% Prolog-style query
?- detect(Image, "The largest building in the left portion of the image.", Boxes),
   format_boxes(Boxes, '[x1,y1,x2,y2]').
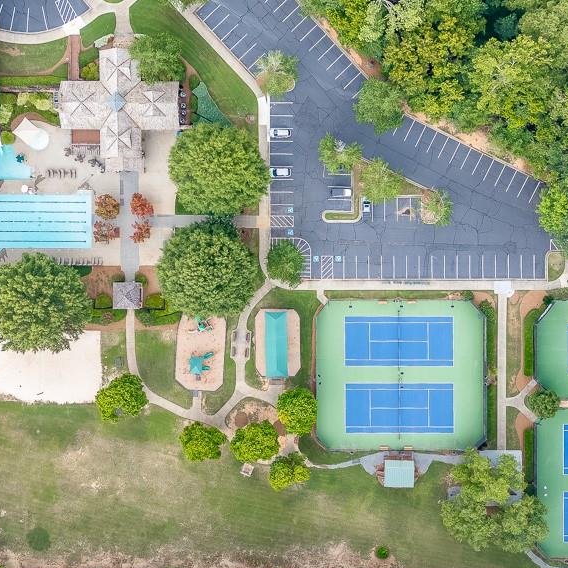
[55,44,179,173]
